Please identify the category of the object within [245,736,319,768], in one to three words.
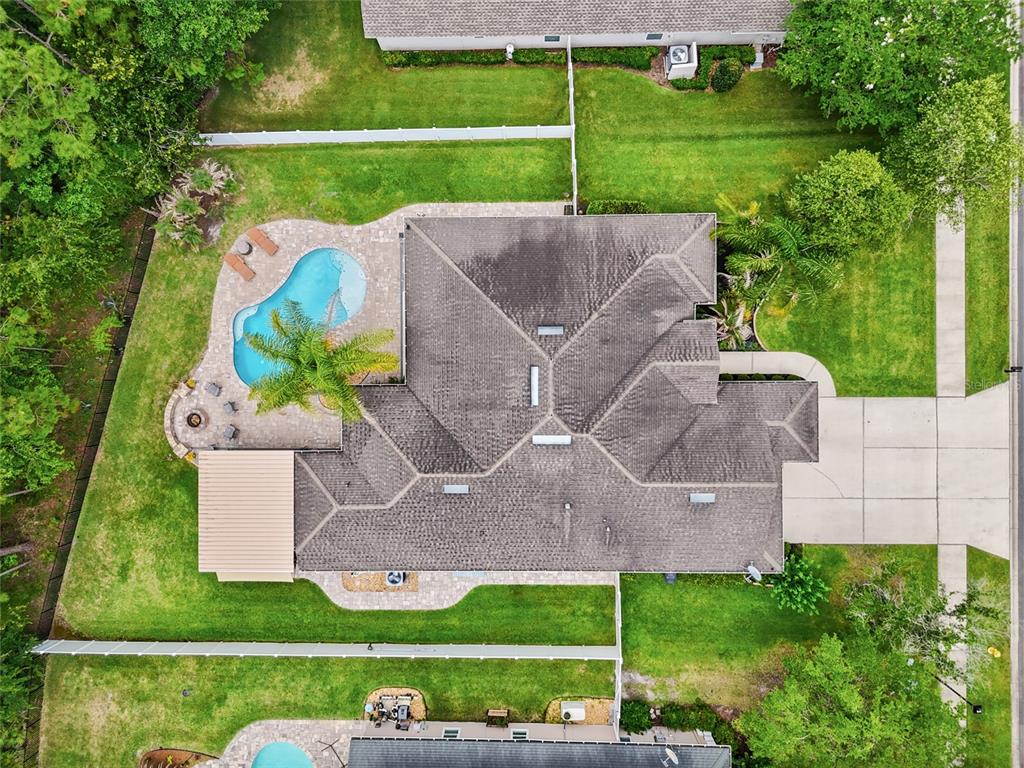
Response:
swimming pool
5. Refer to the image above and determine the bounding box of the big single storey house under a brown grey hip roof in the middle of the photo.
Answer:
[296,212,820,574]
